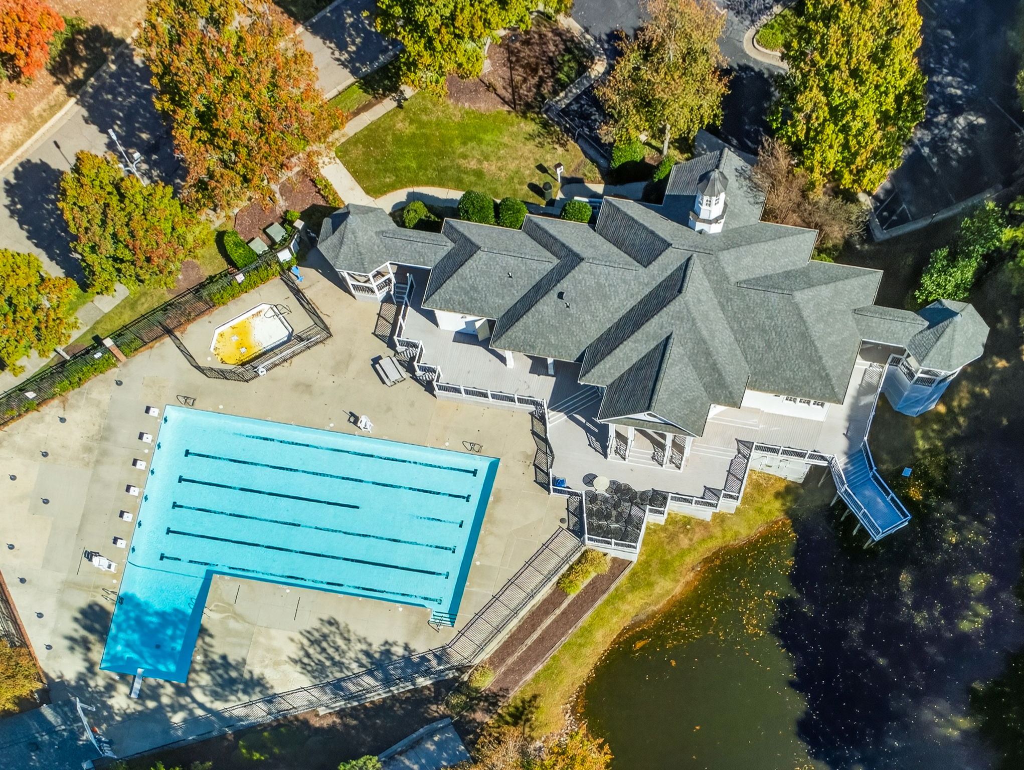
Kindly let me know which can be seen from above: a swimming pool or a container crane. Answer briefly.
swimming pool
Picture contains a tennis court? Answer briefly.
No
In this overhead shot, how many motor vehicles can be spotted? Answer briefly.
none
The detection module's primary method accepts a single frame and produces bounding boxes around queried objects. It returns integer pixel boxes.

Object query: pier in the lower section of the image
[828,437,912,552]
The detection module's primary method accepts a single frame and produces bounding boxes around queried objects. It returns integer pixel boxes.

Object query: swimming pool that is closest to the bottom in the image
[100,405,500,683]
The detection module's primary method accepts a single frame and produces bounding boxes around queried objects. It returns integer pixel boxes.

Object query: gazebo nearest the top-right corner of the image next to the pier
[881,299,990,419]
